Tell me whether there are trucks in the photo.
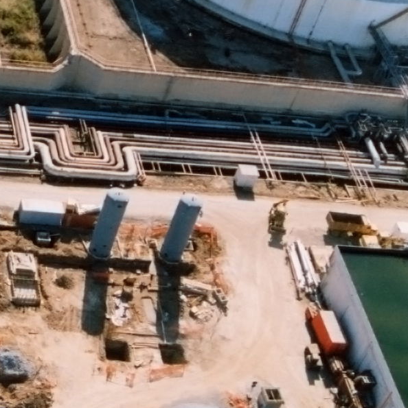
Yes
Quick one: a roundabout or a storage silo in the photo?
storage silo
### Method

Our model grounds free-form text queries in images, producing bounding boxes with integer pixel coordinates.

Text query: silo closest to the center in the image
[160,191,209,268]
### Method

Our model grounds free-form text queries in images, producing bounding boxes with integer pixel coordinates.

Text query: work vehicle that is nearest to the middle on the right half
[270,205,289,233]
